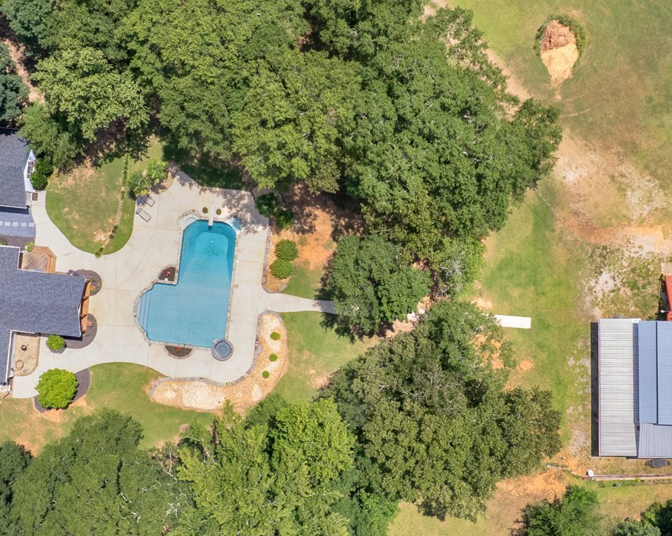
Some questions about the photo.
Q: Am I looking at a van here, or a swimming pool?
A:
swimming pool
